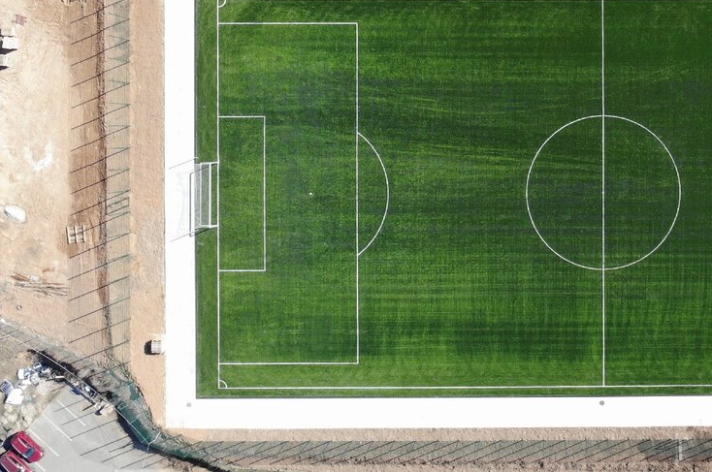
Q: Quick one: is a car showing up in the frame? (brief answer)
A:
Yes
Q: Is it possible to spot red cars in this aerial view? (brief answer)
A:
Yes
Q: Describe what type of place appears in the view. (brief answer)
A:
sports ground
